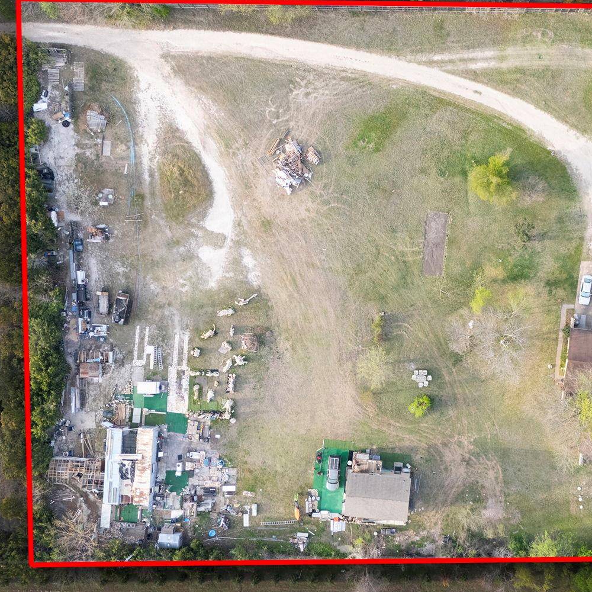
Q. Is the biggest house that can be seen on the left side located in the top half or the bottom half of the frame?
bottom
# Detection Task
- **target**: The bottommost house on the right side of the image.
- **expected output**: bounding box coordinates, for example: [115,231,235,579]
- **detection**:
[342,469,411,525]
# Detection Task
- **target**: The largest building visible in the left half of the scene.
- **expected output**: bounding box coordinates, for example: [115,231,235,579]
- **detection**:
[101,426,159,528]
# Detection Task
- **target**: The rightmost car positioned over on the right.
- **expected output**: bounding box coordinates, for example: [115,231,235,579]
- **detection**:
[578,275,592,305]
